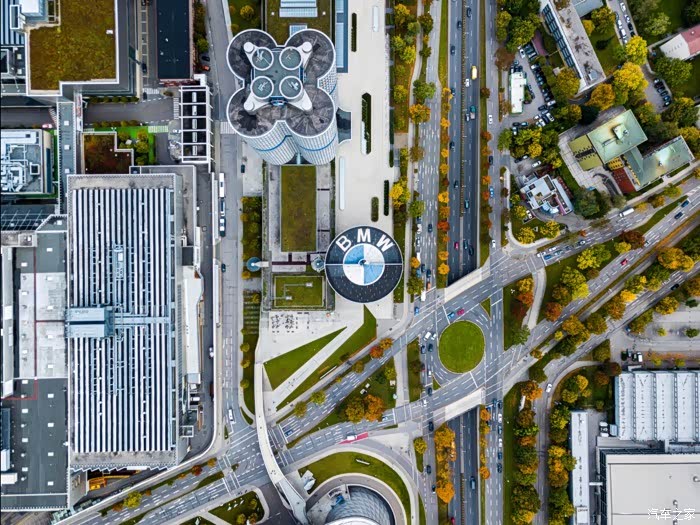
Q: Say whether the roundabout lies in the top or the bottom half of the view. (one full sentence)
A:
The bottom half of the photo is where the roundabout is.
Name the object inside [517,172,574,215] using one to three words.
house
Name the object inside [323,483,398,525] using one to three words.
building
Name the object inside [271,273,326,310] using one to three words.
building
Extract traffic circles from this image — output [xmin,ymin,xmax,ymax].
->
[435,313,489,379]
